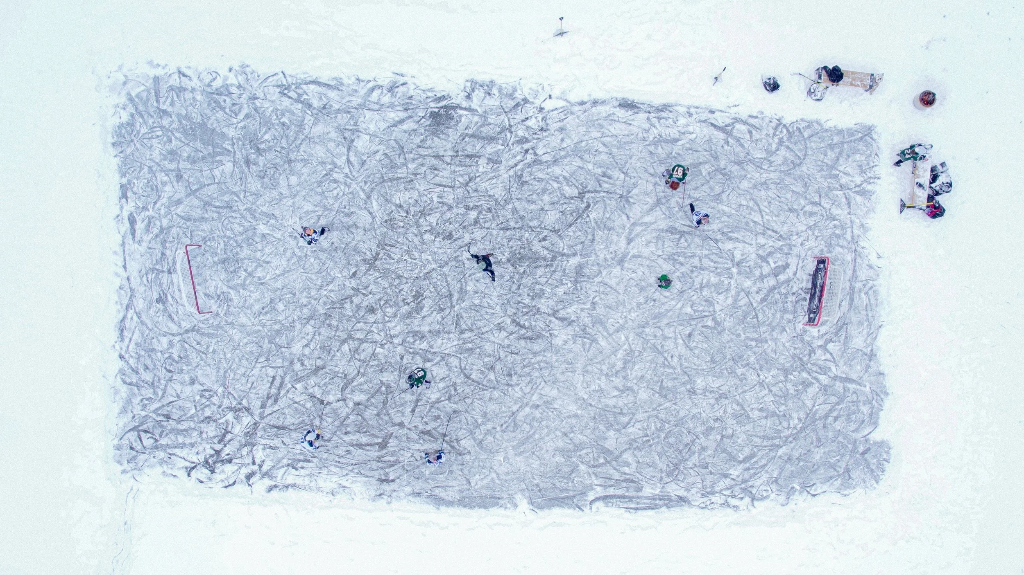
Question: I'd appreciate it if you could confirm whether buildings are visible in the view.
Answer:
No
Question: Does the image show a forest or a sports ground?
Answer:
sports ground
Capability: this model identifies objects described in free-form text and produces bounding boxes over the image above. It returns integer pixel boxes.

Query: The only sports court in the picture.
[101,61,897,521]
